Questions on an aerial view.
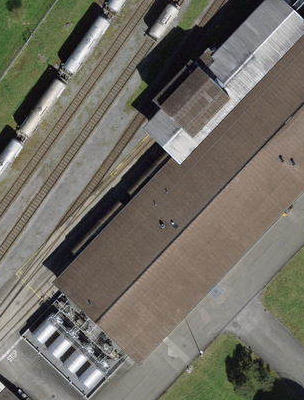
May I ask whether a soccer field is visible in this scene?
No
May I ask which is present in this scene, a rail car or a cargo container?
rail car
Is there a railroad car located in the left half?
Yes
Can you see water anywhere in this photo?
No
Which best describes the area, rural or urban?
urban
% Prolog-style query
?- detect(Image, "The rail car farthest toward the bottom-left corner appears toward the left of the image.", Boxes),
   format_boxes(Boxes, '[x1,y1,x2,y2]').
[73,202,127,258]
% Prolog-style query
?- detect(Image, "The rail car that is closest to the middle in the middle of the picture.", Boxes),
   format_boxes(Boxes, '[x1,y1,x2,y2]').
[126,153,174,204]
